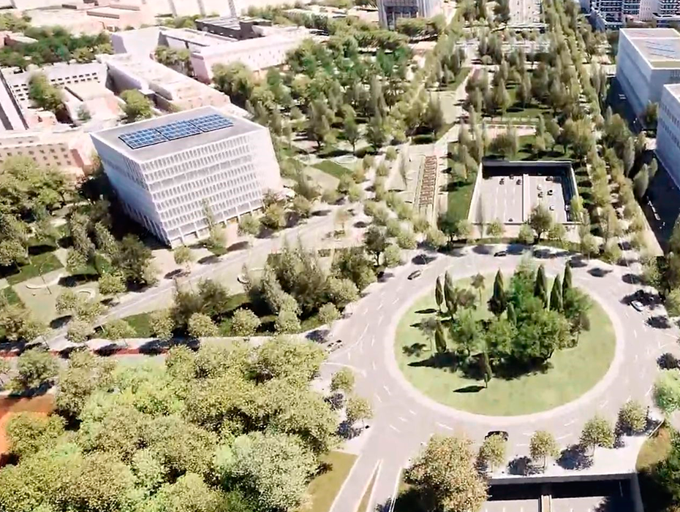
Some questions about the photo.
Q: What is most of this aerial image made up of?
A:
trees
